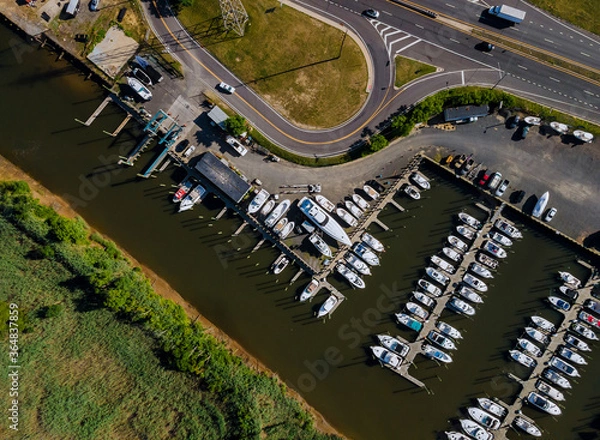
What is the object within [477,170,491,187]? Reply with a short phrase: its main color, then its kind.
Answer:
red vehicle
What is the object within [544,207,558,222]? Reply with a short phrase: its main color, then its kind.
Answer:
white car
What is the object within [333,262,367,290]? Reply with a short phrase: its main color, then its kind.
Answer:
white boat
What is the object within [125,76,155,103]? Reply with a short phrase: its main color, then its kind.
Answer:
white boat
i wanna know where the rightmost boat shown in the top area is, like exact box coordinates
[568,131,596,144]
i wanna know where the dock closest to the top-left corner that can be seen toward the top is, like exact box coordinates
[74,90,146,137]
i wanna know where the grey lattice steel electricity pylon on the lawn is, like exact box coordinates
[217,0,250,37]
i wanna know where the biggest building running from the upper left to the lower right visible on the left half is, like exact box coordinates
[195,150,251,203]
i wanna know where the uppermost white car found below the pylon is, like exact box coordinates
[220,82,236,94]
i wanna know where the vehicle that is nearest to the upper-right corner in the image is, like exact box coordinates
[487,5,527,24]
